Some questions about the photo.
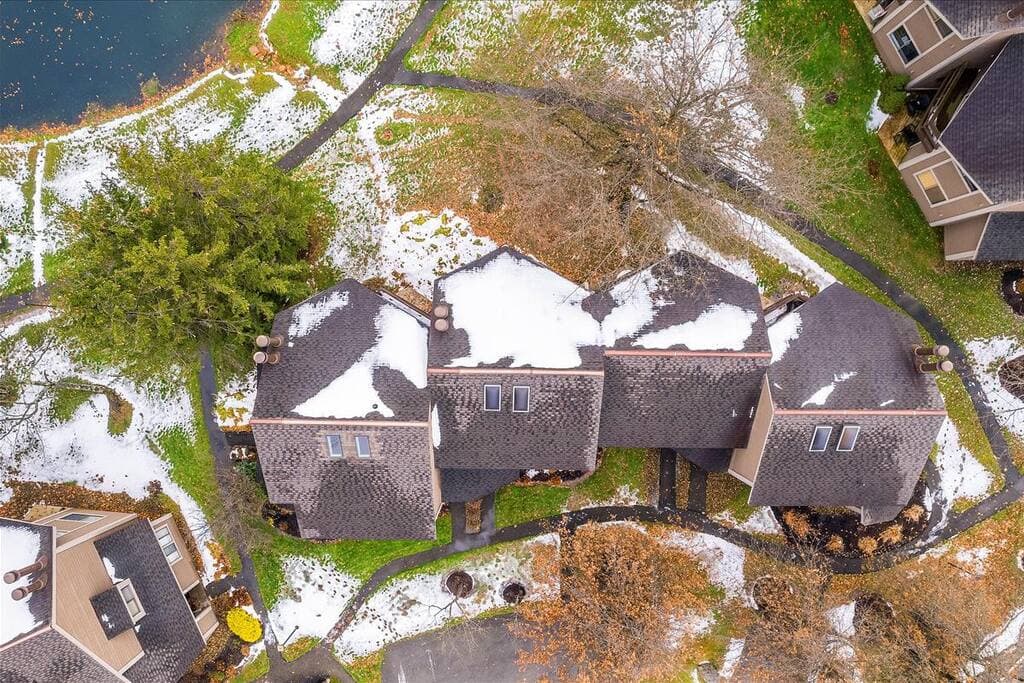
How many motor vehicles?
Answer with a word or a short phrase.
zero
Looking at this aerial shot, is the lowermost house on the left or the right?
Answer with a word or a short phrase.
left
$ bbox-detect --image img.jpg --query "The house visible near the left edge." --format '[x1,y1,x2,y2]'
[0,507,222,683]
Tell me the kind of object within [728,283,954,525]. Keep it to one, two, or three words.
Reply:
house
